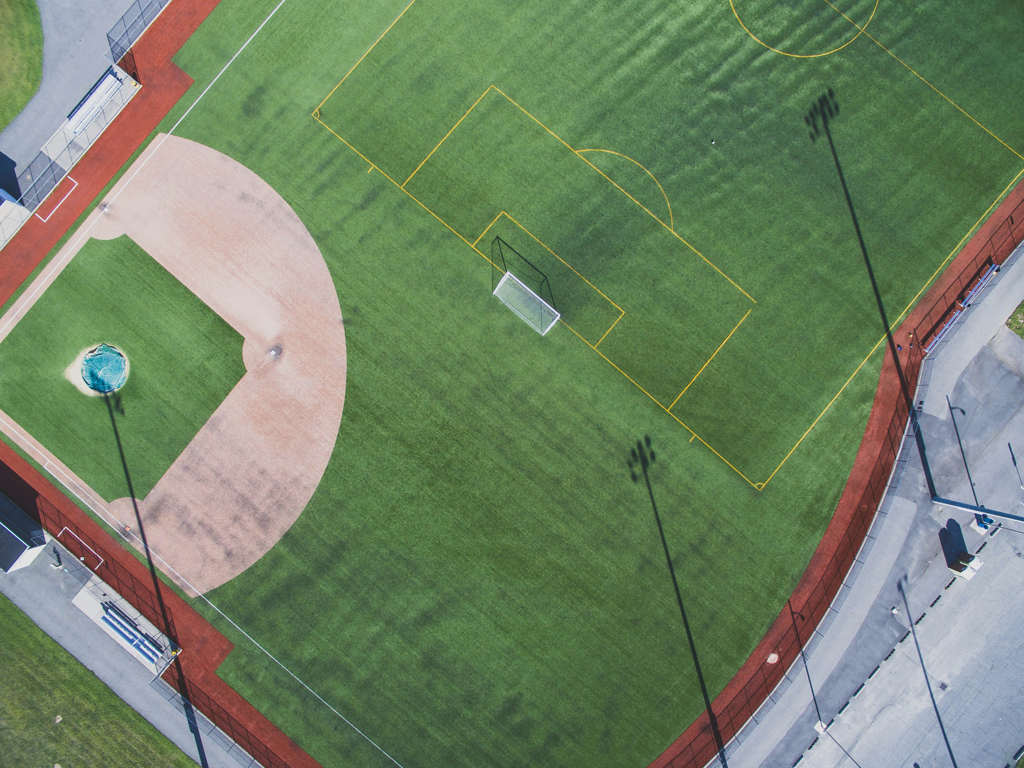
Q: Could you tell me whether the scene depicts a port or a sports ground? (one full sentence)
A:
This image shows a sports ground.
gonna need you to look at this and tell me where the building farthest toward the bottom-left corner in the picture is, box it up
[0,502,46,581]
